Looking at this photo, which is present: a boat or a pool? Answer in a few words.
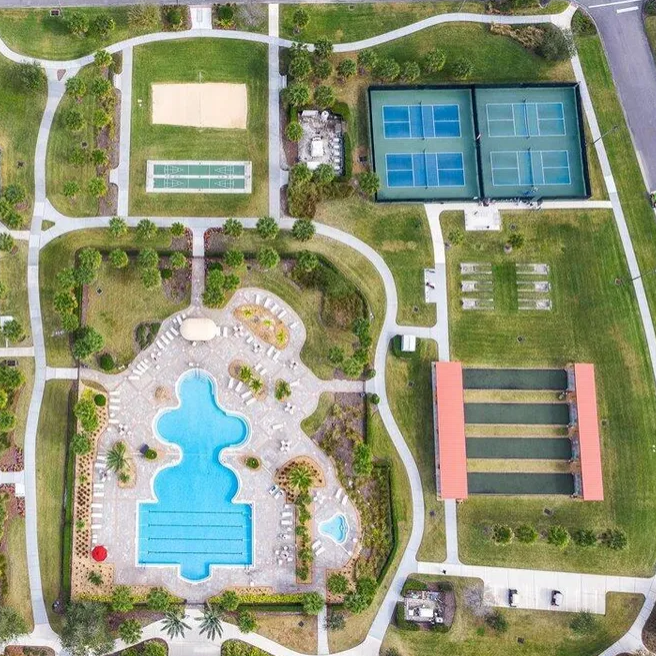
pool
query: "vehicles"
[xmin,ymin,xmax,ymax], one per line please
[508,592,520,610]
[549,592,562,610]
[648,191,656,207]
